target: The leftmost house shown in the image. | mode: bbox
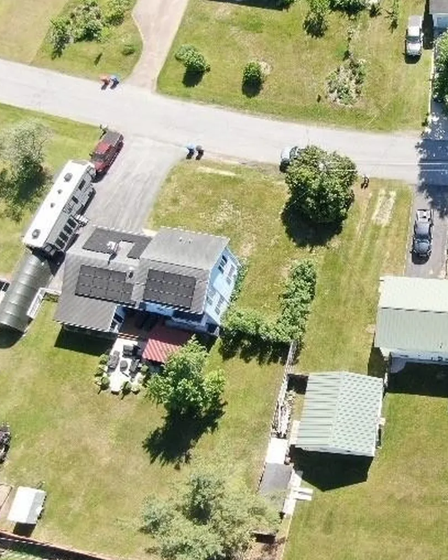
[56,227,241,363]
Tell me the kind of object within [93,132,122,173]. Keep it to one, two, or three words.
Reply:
truck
